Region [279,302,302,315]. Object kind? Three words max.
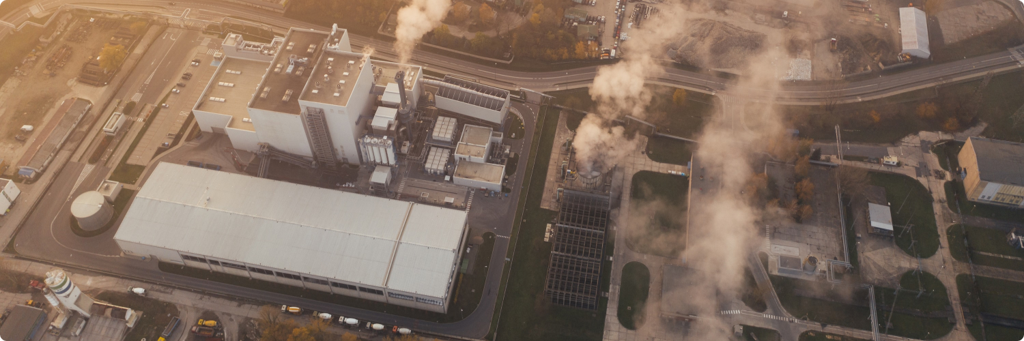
vehicle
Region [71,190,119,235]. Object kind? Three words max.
storage tank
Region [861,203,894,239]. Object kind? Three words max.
building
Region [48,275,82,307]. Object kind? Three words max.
silo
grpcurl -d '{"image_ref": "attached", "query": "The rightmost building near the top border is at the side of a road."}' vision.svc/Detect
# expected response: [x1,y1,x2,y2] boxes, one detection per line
[892,4,933,62]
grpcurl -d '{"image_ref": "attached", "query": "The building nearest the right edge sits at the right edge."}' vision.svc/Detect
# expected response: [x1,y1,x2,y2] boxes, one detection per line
[952,137,1024,209]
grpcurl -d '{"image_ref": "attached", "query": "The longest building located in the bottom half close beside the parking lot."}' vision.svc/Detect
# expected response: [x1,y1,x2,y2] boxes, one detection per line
[113,161,469,314]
